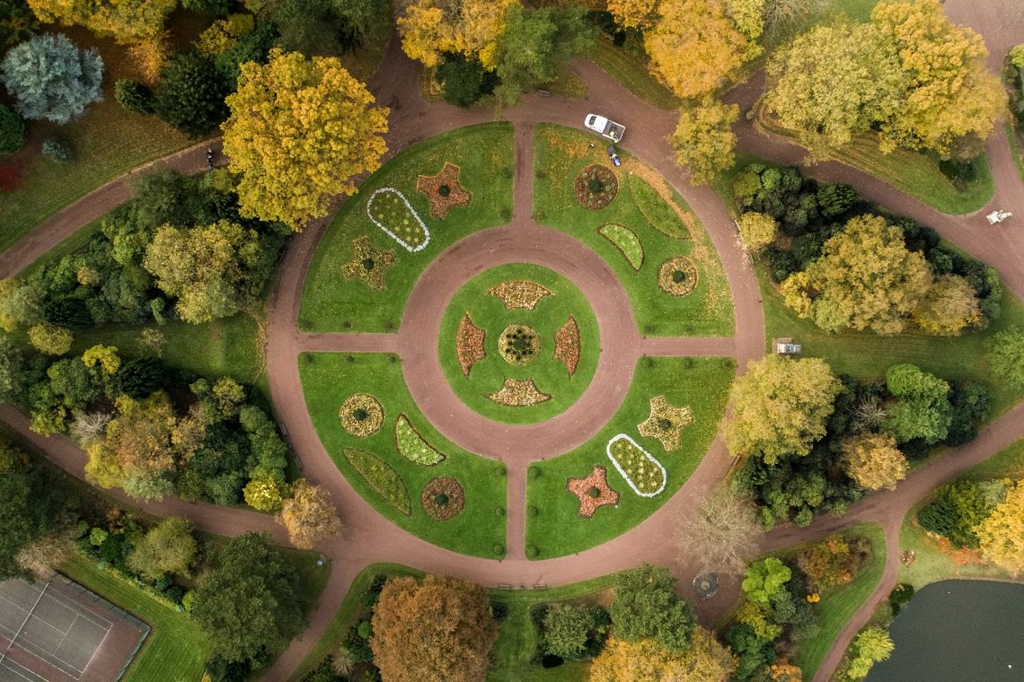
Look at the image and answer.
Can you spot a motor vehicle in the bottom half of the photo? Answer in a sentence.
No, looking in the bottom half of the photo, there is no motor vehicle.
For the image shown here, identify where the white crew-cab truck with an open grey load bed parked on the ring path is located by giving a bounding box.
[583,113,625,139]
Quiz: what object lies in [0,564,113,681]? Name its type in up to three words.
tennis court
